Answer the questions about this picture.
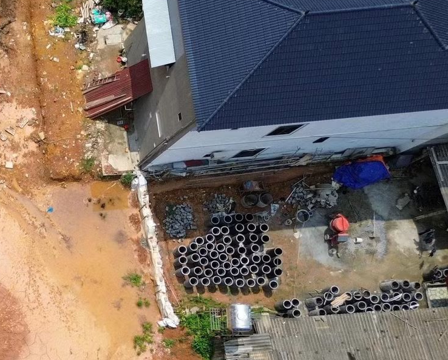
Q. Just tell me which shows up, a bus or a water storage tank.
water storage tank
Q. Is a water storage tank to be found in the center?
No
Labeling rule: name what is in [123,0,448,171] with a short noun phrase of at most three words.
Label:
house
